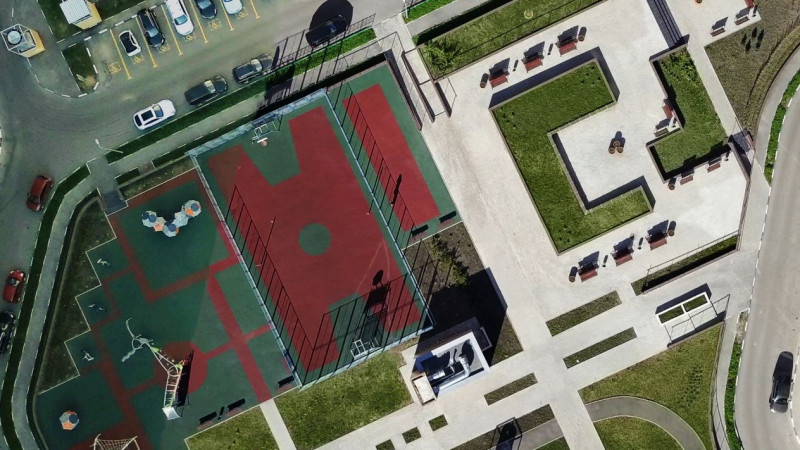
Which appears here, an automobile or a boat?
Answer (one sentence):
I can see an automobile in this picture.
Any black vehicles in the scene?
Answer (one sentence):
Yes, you can see a black vehicle in this photo.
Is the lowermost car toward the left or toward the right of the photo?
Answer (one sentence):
The lowermost car is on the right side of the image.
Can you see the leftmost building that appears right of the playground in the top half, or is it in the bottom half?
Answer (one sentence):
The leftmost building that appears right of the playground sits in the bottom half of the picture.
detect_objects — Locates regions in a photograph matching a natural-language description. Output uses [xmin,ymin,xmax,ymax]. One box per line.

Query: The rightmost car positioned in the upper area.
[303,14,348,44]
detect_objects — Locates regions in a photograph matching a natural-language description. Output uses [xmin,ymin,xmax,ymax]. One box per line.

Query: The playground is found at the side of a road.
[37,167,302,450]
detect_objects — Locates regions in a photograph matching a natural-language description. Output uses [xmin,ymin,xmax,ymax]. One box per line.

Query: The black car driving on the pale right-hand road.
[770,366,795,412]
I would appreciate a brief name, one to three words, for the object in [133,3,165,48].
car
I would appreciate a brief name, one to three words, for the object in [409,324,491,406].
building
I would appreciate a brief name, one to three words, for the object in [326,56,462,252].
sports court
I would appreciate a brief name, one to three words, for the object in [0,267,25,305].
car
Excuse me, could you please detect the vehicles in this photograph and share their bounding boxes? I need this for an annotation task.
[303,14,348,44]
[194,0,216,19]
[23,173,50,212]
[0,267,25,305]
[162,0,193,35]
[181,75,228,105]
[133,3,165,48]
[116,27,141,56]
[129,99,175,129]
[220,0,241,13]
[0,311,16,355]
[770,366,795,412]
